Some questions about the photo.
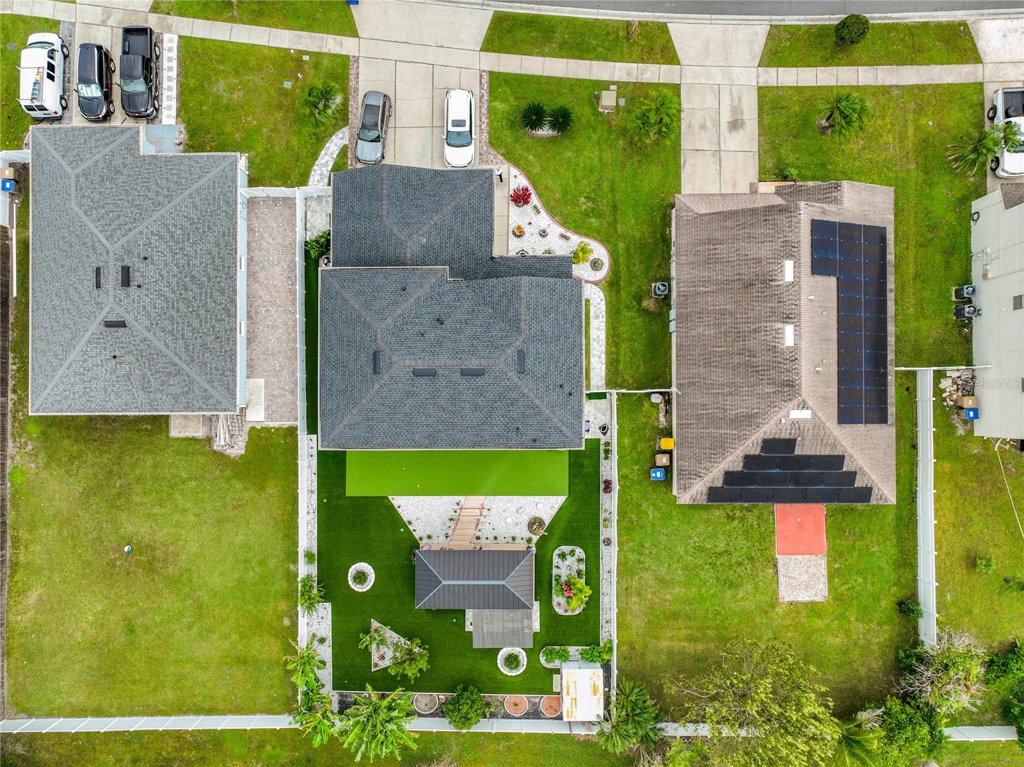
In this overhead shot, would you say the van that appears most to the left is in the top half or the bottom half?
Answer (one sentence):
The top half of the photo is where the van that appears most to the left is.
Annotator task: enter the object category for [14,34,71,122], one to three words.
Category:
van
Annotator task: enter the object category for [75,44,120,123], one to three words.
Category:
car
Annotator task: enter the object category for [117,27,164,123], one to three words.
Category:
truck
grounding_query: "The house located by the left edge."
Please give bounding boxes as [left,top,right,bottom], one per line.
[28,123,250,417]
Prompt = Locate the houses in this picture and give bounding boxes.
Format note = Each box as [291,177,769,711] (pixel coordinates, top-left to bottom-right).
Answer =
[973,183,1024,442]
[28,123,250,417]
[317,163,586,451]
[668,181,896,505]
